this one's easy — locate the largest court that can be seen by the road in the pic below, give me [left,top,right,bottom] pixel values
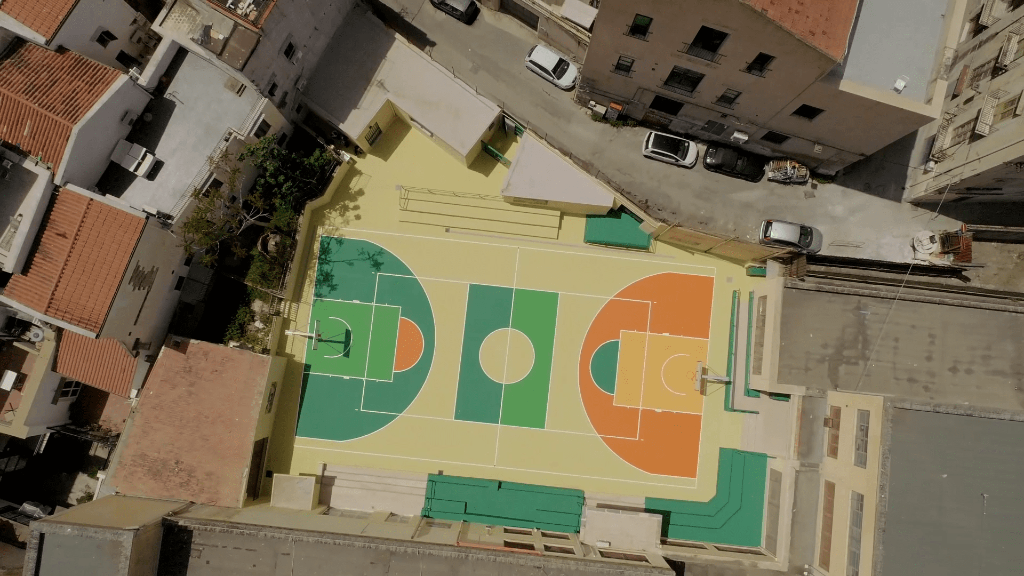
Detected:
[294,226,716,488]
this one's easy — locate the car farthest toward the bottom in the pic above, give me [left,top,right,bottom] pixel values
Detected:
[760,222,821,254]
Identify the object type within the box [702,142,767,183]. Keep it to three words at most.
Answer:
car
